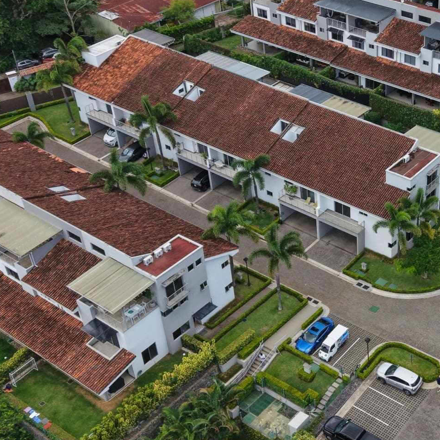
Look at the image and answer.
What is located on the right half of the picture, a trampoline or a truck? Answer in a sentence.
The feature located on the right half of the picture is a truck.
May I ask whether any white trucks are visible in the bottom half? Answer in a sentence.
Yes, in the bottom half there is a white truck.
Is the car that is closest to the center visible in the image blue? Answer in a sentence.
No, the color of the car that is closest to the center is black.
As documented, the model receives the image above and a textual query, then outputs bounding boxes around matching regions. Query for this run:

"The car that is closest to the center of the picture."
[183,167,209,190]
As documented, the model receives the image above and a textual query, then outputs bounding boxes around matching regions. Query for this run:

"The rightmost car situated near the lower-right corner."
[375,363,425,395]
